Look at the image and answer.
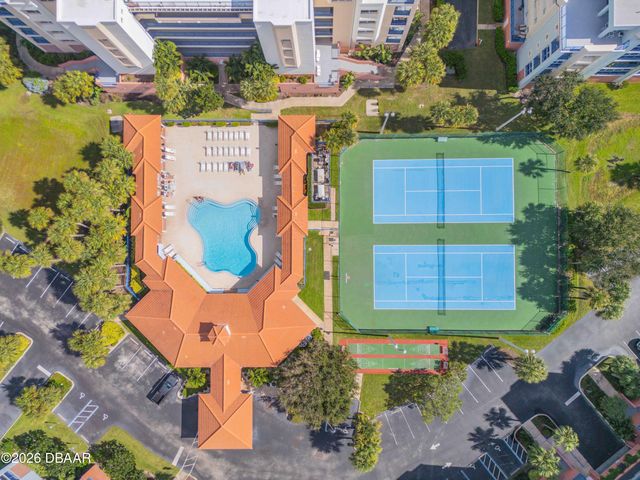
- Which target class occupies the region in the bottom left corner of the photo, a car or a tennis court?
car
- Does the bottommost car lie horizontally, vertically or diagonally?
diagonally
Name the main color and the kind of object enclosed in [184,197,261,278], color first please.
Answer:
blue swimming pool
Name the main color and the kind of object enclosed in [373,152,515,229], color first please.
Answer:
blue tennis court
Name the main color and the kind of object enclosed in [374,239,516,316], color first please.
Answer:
blue tennis court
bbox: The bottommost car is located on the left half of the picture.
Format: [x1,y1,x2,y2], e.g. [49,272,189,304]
[149,375,178,406]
